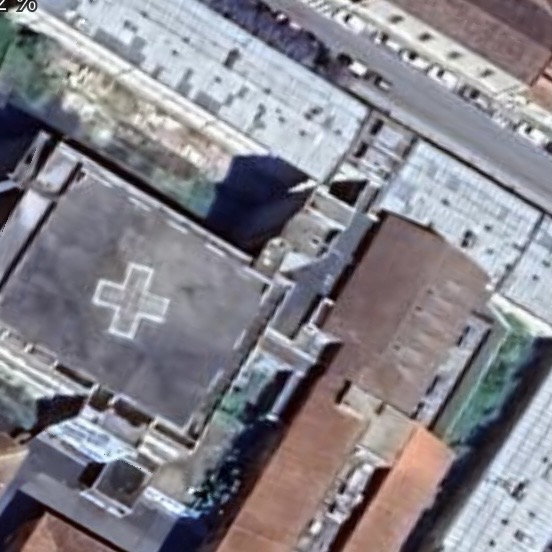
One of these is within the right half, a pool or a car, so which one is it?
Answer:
car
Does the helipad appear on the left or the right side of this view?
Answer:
left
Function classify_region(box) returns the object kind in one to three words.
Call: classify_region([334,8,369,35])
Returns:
vehicle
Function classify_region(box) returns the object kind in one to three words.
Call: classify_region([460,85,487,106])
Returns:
car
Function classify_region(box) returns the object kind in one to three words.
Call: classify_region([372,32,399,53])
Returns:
car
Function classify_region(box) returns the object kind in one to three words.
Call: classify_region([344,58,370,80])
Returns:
vehicle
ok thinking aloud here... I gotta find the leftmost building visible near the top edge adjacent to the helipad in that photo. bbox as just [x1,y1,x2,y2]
[0,0,368,192]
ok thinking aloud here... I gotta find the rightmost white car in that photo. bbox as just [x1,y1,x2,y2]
[520,120,548,142]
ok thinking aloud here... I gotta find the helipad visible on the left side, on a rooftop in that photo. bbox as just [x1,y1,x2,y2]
[0,159,271,437]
